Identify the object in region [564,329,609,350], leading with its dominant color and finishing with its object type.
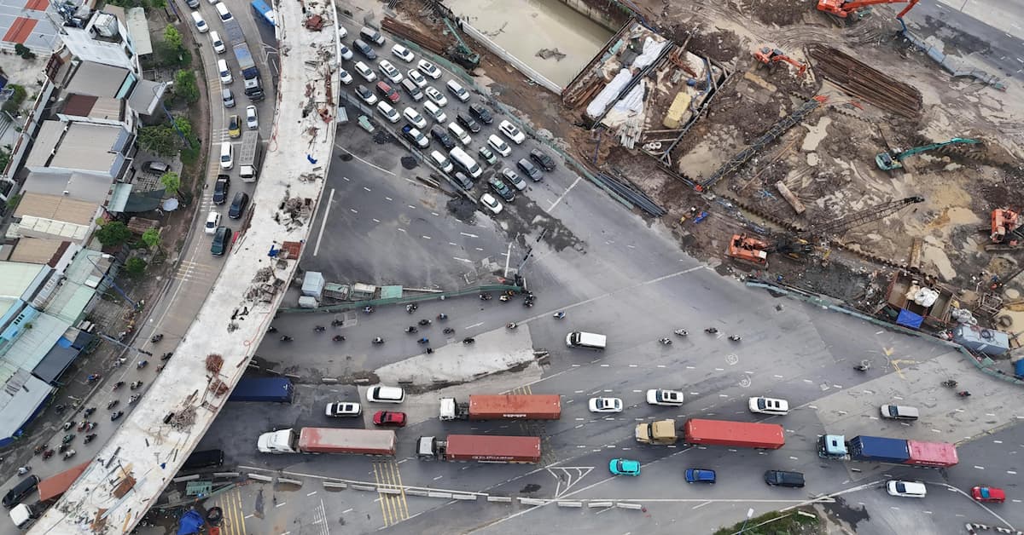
white vehicle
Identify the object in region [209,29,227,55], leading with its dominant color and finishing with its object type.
white car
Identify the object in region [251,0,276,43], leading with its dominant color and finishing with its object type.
blue bus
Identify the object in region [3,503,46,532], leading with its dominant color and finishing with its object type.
white truck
